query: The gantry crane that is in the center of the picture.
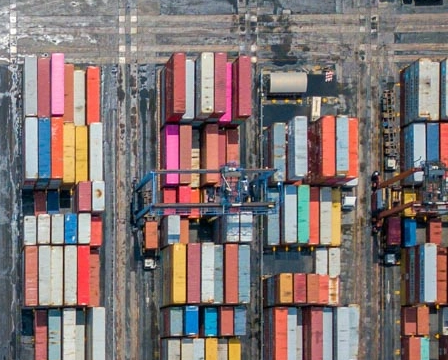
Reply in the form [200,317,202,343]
[135,166,283,226]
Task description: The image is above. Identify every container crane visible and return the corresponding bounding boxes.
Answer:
[135,166,283,226]
[375,165,448,225]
